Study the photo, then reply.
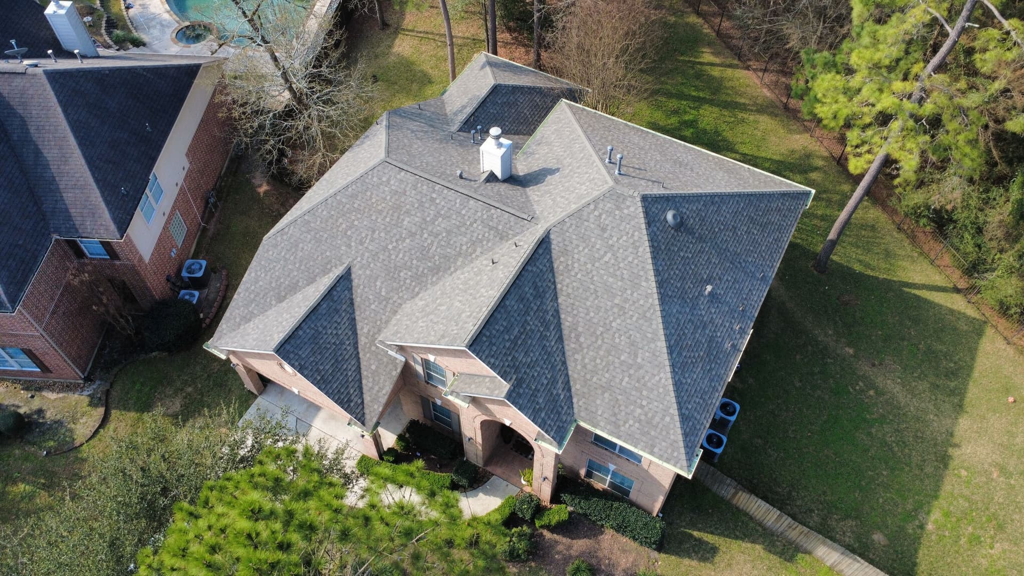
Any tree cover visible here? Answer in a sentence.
Yes, there's tree cover in this view.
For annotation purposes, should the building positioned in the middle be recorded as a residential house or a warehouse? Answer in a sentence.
Looking closely, the building positioned in the middle is a residential house.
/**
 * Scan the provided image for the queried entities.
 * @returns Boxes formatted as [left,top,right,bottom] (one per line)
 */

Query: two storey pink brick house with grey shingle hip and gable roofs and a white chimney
[203,51,817,520]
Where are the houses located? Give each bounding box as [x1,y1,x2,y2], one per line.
[0,0,233,379]
[203,51,817,520]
